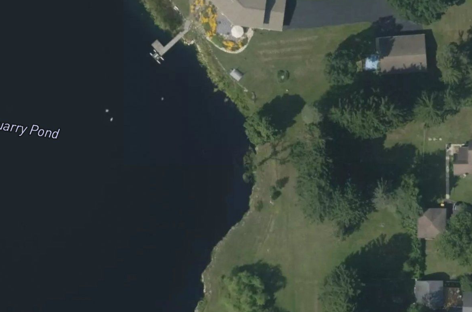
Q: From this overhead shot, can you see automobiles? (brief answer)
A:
No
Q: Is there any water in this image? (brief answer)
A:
Yes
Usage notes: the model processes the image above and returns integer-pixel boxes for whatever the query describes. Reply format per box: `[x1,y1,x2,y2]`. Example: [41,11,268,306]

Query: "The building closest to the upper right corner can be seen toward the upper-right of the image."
[377,34,427,75]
